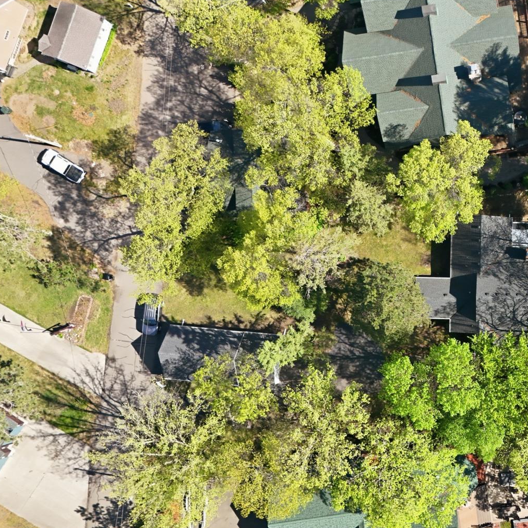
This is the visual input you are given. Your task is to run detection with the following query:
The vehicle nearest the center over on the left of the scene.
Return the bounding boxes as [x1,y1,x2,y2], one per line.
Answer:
[140,289,163,333]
